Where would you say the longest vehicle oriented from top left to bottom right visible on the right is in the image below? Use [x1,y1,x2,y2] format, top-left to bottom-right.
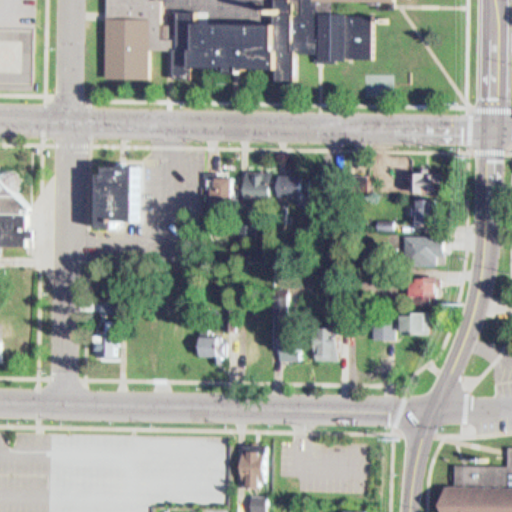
[404,410,420,426]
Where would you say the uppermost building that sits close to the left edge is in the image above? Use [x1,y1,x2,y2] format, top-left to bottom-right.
[0,28,36,92]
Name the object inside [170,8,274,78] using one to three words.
building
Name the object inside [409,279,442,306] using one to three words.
house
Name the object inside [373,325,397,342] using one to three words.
house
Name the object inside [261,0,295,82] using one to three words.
building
